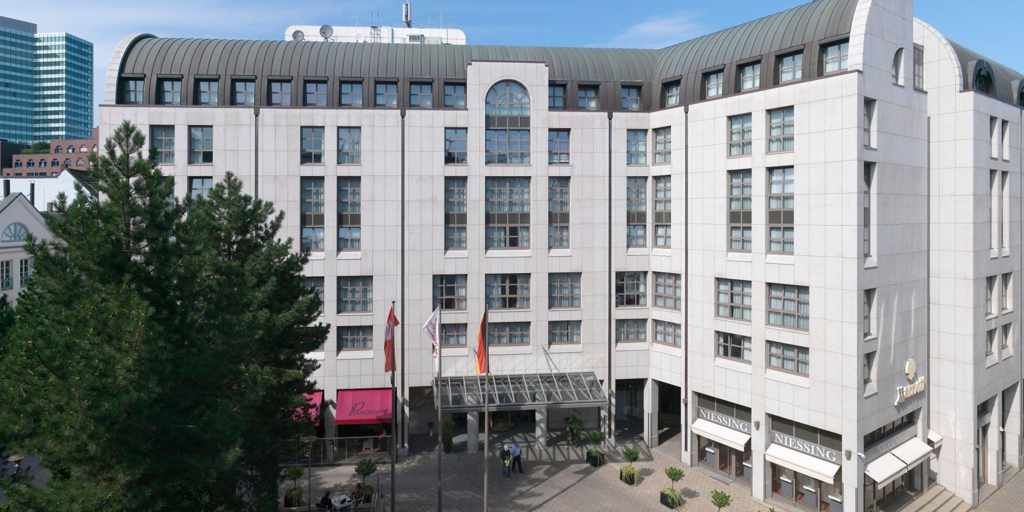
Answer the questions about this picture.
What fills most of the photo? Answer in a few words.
buildings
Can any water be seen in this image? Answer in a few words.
No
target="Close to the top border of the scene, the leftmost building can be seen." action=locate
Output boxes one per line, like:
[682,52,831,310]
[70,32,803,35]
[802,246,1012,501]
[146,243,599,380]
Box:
[0,9,94,148]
